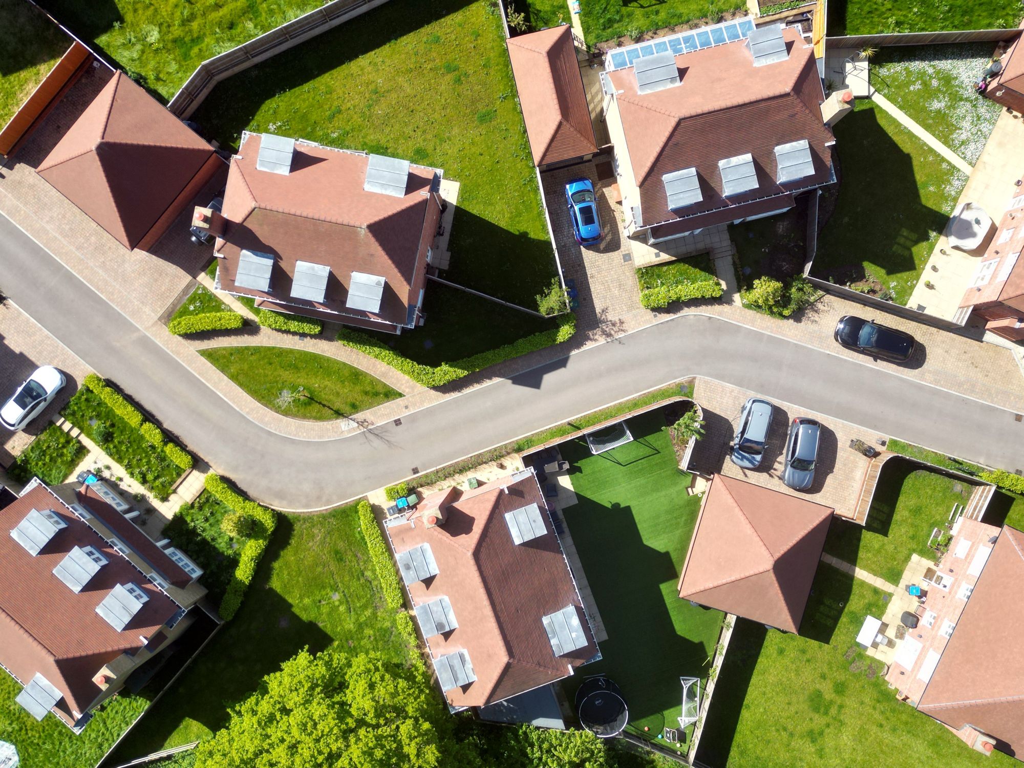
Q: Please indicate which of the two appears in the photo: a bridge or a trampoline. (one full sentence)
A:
The image shows a trampoline.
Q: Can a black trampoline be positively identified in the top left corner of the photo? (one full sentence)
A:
No, no black trampoline is visible in the top left corner of the photo.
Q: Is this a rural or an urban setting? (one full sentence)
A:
It looks urban.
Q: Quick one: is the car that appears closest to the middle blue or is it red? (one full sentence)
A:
The color of the car that appears closest to the middle is blue.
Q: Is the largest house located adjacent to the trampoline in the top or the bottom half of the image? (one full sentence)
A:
The largest house located adjacent to the trampoline is in the bottom half of the image.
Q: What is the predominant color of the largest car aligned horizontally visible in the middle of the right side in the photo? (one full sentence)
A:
In this view, the largest car aligned horizontally visible in the middle of the right side is black.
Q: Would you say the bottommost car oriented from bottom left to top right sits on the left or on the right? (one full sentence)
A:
The bottommost car oriented from bottom left to top right is on the left side of the image.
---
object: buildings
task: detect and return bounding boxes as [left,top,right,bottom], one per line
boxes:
[35,70,222,252]
[383,468,601,713]
[506,23,600,171]
[193,131,443,336]
[886,519,1024,763]
[0,478,210,735]
[981,1,1024,114]
[597,14,855,244]
[961,176,1024,348]
[676,473,835,634]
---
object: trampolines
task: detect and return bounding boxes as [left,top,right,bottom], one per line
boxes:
[575,663,628,734]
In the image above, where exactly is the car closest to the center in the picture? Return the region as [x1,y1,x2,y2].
[564,178,600,249]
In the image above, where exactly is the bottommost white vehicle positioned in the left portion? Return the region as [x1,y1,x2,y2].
[0,363,69,433]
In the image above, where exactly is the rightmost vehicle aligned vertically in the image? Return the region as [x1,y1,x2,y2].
[780,416,820,491]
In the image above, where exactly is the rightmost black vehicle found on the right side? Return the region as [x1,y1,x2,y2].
[831,318,914,360]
